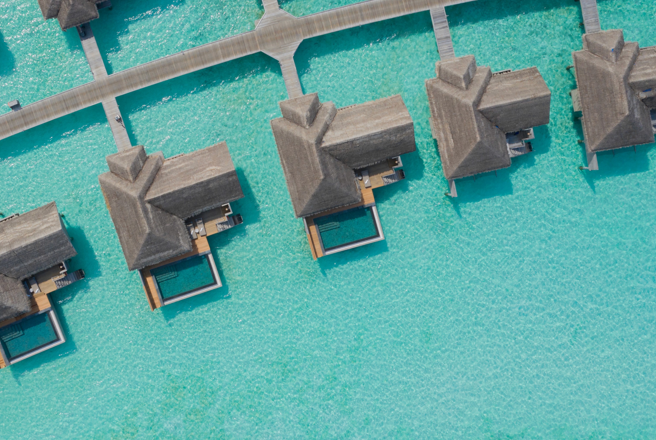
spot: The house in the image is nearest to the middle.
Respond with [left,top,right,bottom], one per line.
[270,90,416,260]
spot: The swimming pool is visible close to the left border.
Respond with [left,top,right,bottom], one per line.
[0,293,67,366]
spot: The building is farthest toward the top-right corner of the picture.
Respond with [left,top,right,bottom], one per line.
[564,28,656,170]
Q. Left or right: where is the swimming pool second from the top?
left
